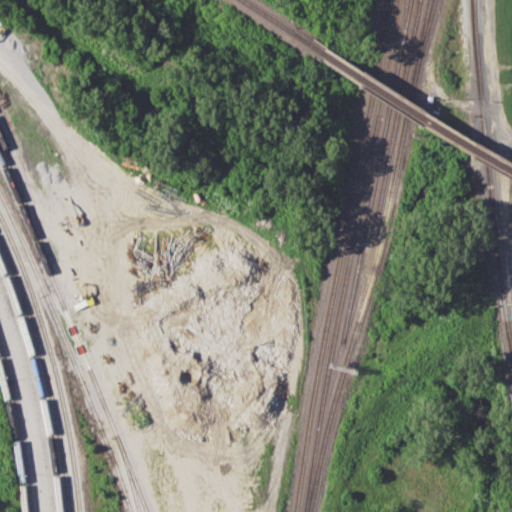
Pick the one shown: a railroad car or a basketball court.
railroad car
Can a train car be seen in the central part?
No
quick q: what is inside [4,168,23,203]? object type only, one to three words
rail car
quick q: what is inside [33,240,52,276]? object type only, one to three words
rail car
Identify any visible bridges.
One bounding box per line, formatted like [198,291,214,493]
[234,0,512,177]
